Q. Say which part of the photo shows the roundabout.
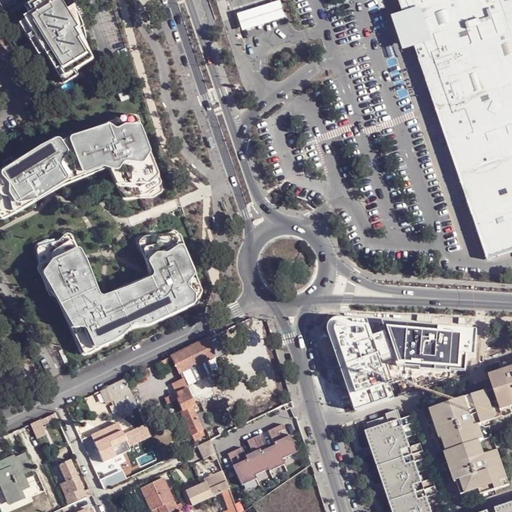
center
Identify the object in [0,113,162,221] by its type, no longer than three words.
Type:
building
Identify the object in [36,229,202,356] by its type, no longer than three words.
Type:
building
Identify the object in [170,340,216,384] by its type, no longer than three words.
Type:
house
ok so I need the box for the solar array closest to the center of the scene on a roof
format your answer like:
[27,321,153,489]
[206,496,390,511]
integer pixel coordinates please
[96,296,171,336]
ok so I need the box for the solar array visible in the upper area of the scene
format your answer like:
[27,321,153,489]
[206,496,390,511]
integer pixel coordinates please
[6,142,54,176]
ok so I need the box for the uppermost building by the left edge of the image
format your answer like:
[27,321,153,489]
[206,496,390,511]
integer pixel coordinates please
[18,0,94,78]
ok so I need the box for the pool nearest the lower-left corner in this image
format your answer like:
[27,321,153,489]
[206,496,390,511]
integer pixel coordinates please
[136,451,157,467]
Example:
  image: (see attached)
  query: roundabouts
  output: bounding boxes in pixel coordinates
[240,220,334,312]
